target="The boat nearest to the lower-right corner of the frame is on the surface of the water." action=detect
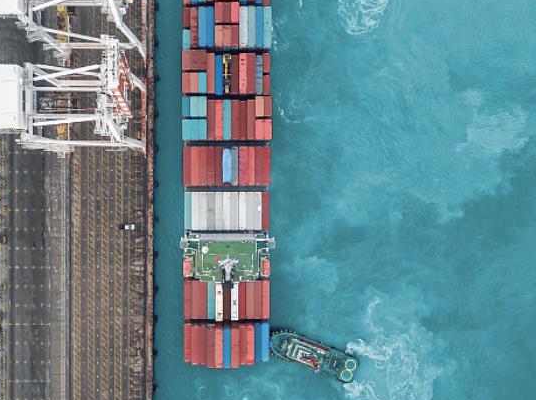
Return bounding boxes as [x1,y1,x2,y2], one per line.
[270,333,363,389]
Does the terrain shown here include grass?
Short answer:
No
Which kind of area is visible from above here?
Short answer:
port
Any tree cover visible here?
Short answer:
No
